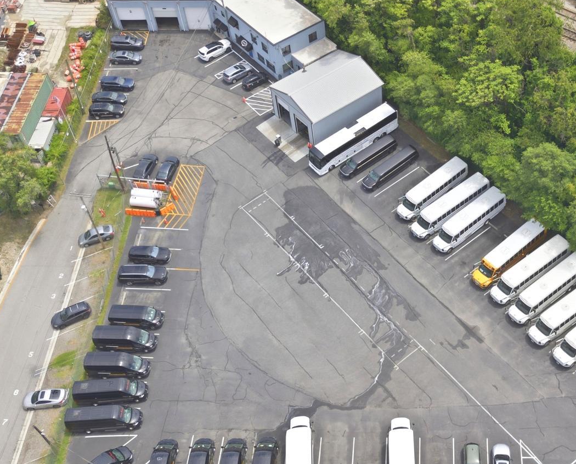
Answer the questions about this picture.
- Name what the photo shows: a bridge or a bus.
bus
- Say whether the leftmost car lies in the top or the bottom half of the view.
bottom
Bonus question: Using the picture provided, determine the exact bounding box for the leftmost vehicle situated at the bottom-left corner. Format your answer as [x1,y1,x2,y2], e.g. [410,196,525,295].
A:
[23,387,70,412]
